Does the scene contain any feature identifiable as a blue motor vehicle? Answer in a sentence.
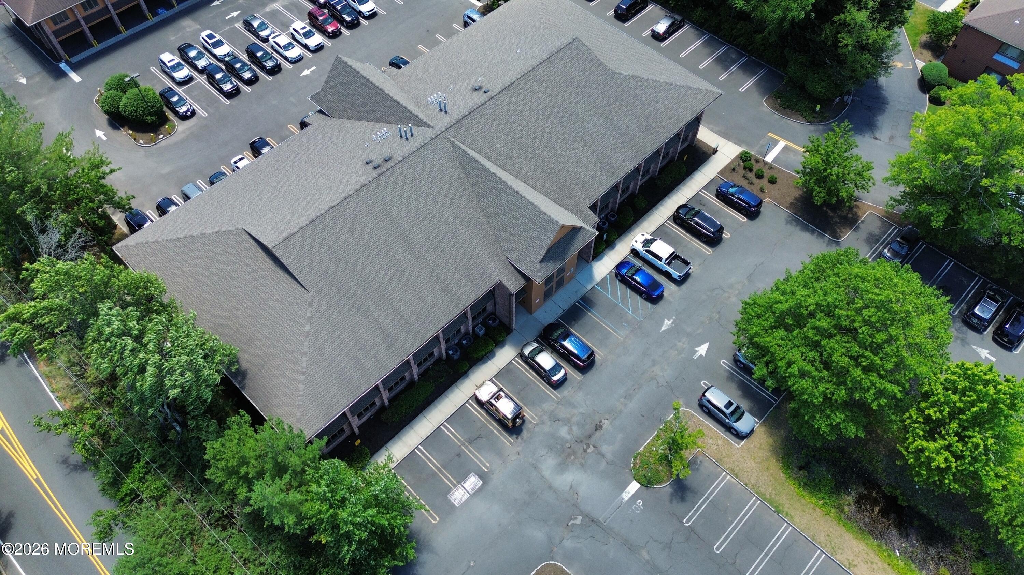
Yes, there is a blue motor vehicle in the image.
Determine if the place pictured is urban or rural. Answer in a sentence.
The area is urban.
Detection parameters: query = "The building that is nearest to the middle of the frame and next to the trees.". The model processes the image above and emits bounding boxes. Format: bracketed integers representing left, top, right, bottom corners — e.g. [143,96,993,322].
[111,0,724,458]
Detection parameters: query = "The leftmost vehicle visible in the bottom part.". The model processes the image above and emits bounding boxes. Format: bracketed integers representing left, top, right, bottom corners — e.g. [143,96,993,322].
[471,378,526,430]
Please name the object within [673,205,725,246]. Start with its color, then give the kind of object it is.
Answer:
black car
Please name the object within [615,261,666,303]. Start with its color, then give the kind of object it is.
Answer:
blue car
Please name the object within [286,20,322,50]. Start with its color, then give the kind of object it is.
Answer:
white car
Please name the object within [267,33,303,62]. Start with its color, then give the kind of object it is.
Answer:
white car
